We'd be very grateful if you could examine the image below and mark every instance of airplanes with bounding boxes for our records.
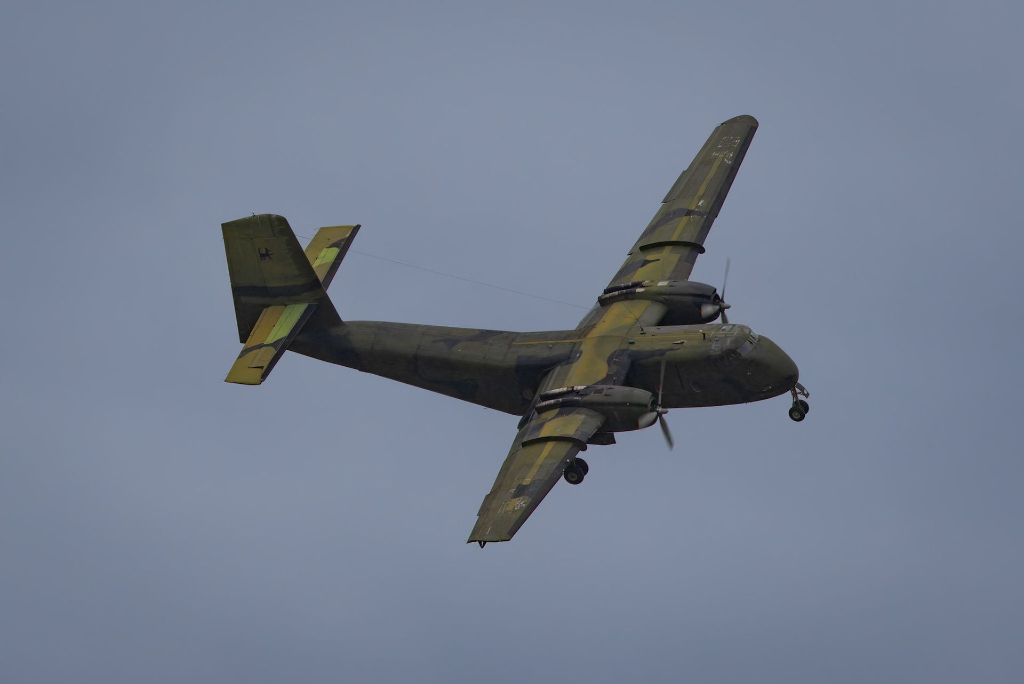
[219,115,810,549]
